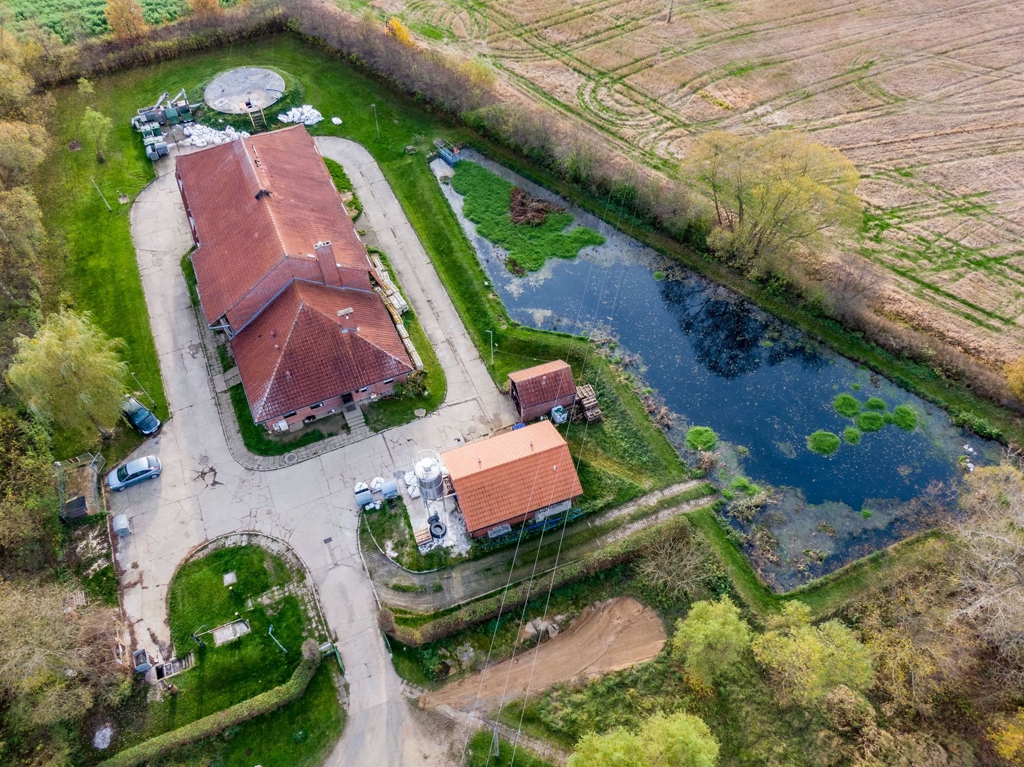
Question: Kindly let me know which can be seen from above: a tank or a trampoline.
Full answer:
There is a tank in the scene.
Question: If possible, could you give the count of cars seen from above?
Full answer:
The count of cars comes to 2.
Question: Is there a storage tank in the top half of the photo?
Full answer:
Yes, looking in the top half of the photo, one can make out a storage tank.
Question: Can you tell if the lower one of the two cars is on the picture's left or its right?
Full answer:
The lower one of the two cars appears in the left half of the scene.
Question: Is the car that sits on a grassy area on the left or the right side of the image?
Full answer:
It is on the left.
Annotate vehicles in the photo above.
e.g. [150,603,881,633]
[107,456,164,493]
[118,393,158,433]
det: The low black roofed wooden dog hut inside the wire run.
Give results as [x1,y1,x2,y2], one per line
[56,484,87,515]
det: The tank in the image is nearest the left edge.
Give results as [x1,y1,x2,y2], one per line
[201,68,287,130]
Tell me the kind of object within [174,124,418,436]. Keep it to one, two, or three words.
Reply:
building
